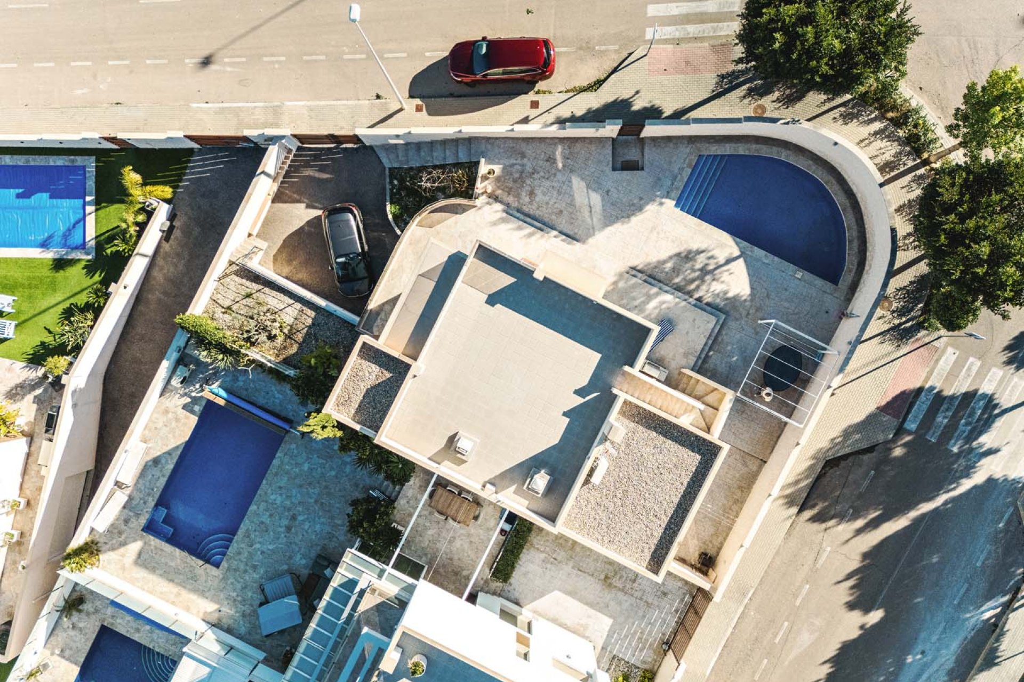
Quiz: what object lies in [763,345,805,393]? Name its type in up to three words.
trampoline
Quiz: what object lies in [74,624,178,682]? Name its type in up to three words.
swimming pool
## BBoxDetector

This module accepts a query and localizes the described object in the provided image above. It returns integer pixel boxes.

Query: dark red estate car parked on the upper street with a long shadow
[448,29,556,86]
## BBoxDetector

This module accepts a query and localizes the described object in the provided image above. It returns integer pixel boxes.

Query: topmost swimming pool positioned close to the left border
[0,164,85,249]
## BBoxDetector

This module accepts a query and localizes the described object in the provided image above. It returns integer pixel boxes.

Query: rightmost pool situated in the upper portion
[675,154,846,285]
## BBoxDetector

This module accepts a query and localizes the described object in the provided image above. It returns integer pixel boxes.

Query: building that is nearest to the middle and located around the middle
[322,238,730,582]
